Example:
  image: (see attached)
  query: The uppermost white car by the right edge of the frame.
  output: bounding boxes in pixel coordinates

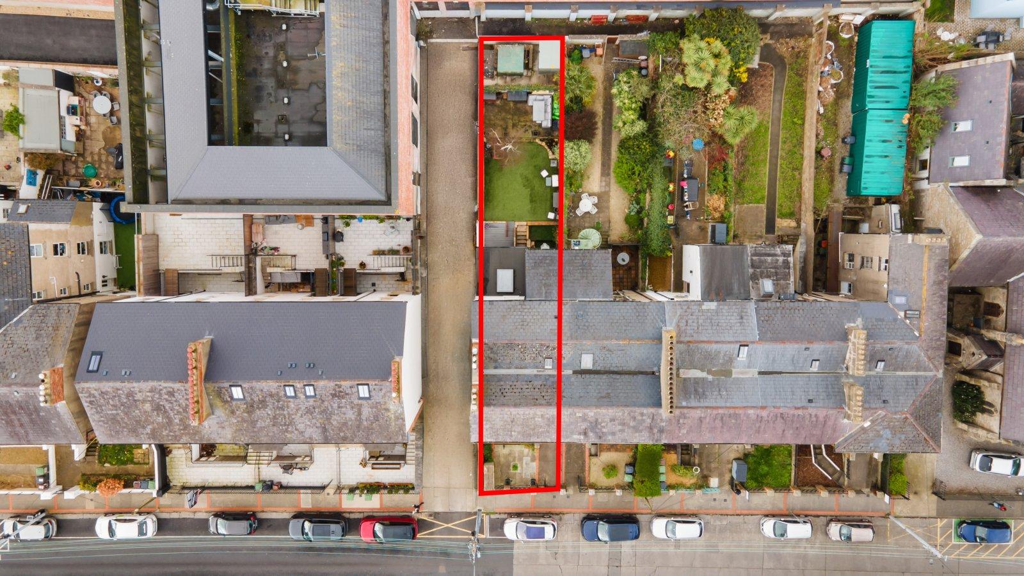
[969,446,1024,479]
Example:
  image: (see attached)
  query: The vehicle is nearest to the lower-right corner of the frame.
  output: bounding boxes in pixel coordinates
[955,516,1013,547]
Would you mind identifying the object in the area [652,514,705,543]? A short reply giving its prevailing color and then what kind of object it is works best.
white car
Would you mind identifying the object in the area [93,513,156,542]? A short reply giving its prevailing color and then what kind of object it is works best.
white car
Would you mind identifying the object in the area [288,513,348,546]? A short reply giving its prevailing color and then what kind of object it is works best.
gray car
